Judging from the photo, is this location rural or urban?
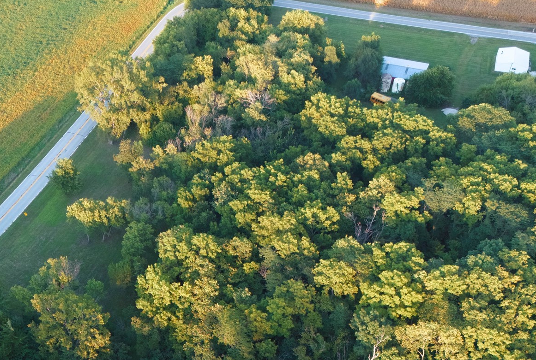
rural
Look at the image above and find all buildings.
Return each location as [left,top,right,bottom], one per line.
[375,56,431,88]
[496,47,532,76]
